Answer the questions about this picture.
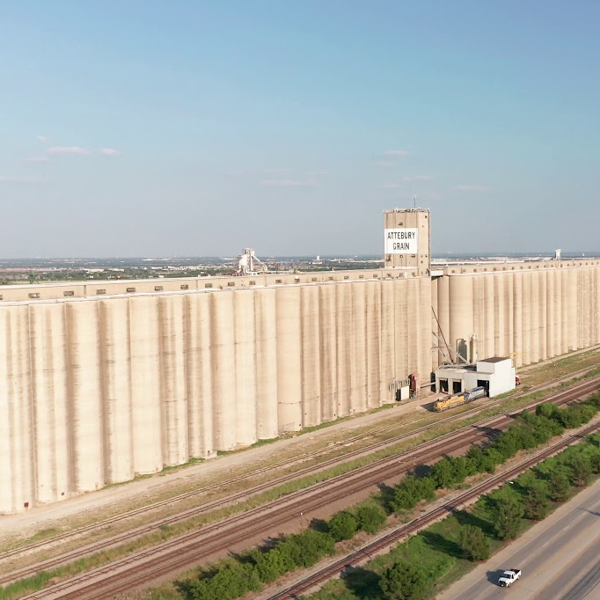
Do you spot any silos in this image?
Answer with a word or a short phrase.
Yes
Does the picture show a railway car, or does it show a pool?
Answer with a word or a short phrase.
railway car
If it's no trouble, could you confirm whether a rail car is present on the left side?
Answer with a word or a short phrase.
No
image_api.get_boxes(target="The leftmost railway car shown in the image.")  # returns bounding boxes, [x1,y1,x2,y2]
[434,391,467,410]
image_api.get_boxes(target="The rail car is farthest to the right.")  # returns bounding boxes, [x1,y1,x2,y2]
[464,385,488,401]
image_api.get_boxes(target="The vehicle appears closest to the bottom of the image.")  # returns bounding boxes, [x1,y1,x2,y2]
[499,567,521,586]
